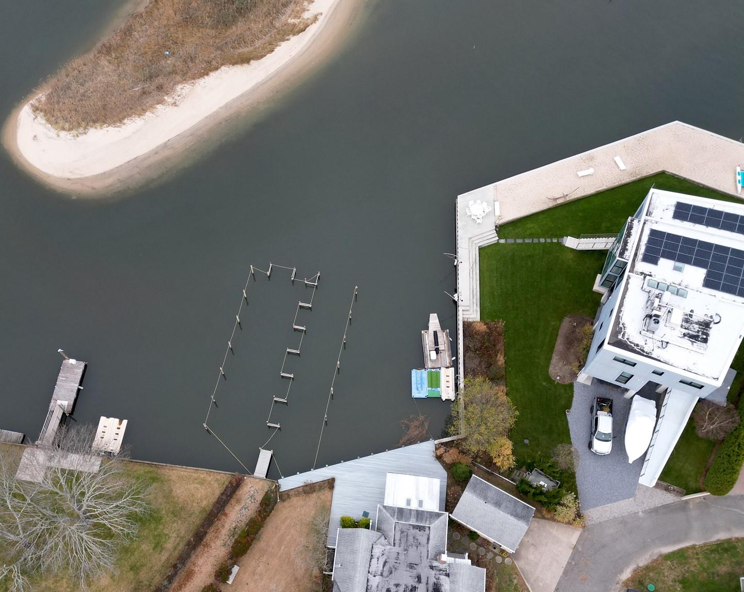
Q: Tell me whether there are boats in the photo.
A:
Yes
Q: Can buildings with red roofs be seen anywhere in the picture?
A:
No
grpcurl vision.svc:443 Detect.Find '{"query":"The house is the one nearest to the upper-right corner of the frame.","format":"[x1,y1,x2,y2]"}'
[580,183,744,404]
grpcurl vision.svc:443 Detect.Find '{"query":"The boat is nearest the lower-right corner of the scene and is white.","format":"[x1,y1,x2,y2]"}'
[623,396,653,464]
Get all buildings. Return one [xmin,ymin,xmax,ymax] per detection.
[324,472,486,592]
[450,474,536,553]
[580,183,744,404]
